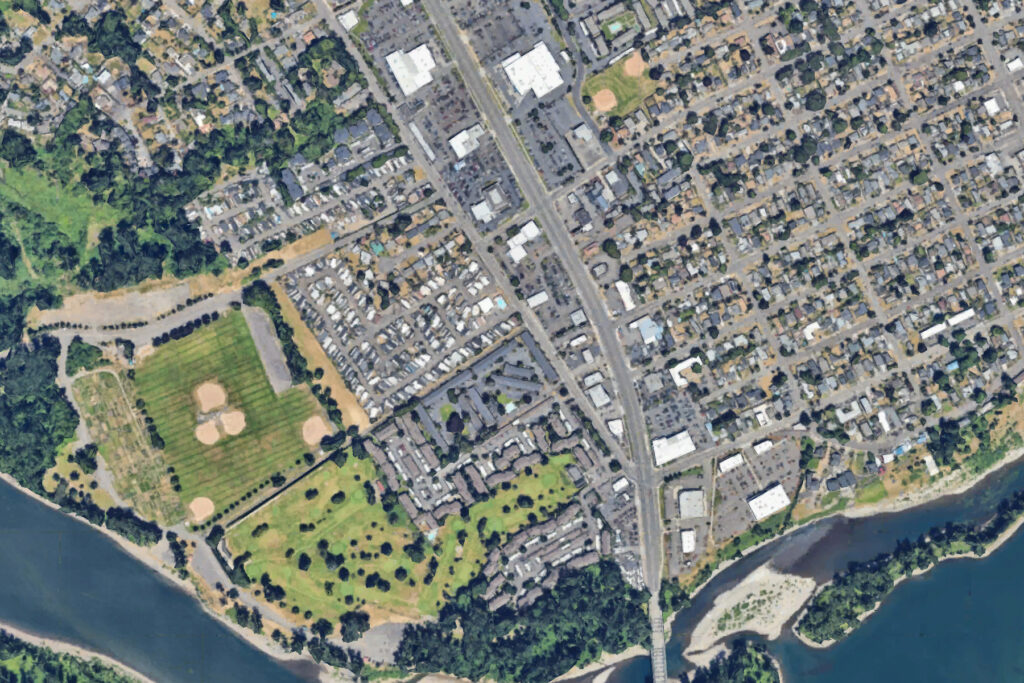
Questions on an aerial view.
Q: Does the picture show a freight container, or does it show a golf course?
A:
golf course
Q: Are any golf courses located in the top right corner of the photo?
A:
No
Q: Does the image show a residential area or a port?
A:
residential area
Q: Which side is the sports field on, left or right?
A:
left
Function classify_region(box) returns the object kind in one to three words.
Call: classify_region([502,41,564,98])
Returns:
building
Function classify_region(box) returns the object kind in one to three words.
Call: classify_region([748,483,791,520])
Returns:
building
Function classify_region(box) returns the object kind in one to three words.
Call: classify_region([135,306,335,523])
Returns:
sports field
